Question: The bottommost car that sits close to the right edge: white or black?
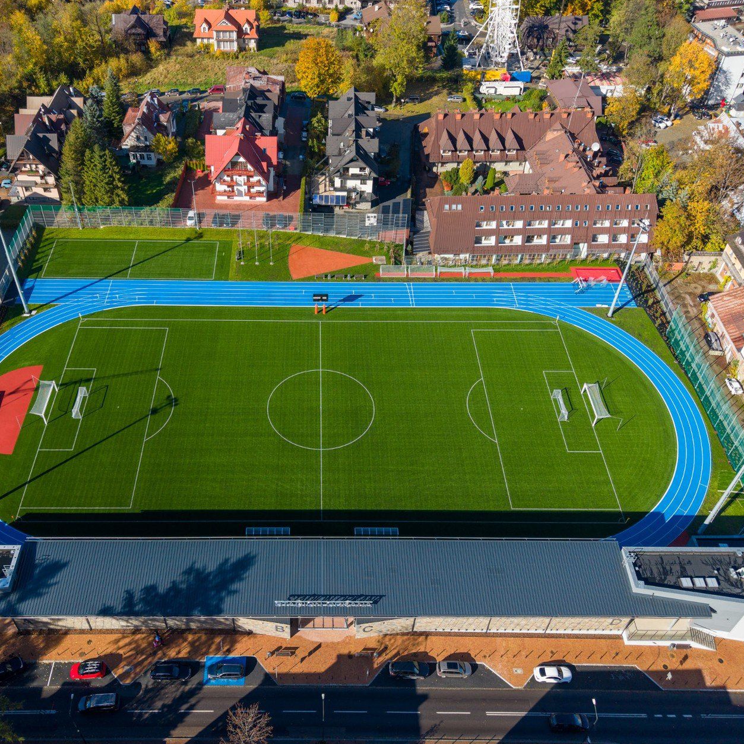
white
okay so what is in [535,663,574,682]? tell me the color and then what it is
white car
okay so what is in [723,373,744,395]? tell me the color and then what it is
white car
